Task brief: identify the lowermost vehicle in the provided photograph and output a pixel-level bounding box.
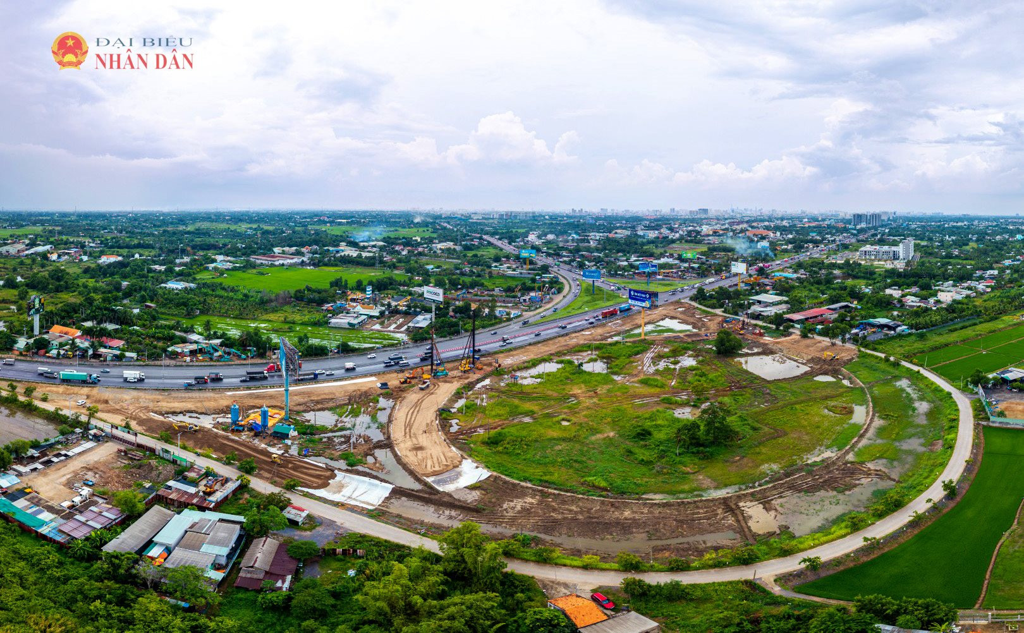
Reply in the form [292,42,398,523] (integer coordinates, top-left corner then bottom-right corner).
[591,586,617,606]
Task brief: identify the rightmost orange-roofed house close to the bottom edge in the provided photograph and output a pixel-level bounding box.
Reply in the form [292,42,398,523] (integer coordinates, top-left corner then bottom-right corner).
[553,593,608,633]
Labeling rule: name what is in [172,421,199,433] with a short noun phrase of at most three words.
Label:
vehicle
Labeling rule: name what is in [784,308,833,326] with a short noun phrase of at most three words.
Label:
building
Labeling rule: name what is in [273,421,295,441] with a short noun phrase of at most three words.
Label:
building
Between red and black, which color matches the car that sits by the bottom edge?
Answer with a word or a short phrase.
red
